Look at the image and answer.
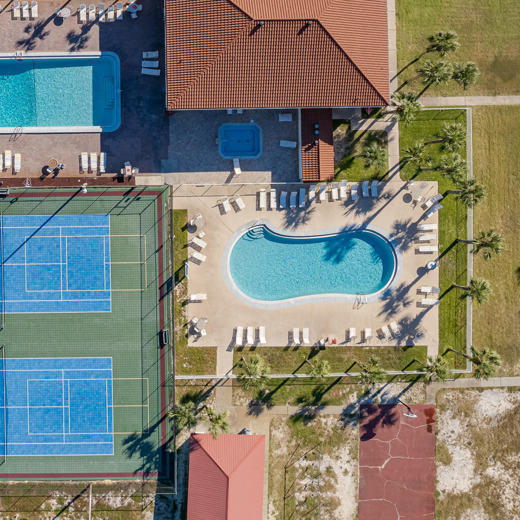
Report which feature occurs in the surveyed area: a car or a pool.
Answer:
pool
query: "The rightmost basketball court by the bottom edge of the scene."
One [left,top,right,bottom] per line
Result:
[358,405,436,520]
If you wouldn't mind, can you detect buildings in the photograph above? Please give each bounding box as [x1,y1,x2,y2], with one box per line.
[165,0,392,110]
[184,423,265,520]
